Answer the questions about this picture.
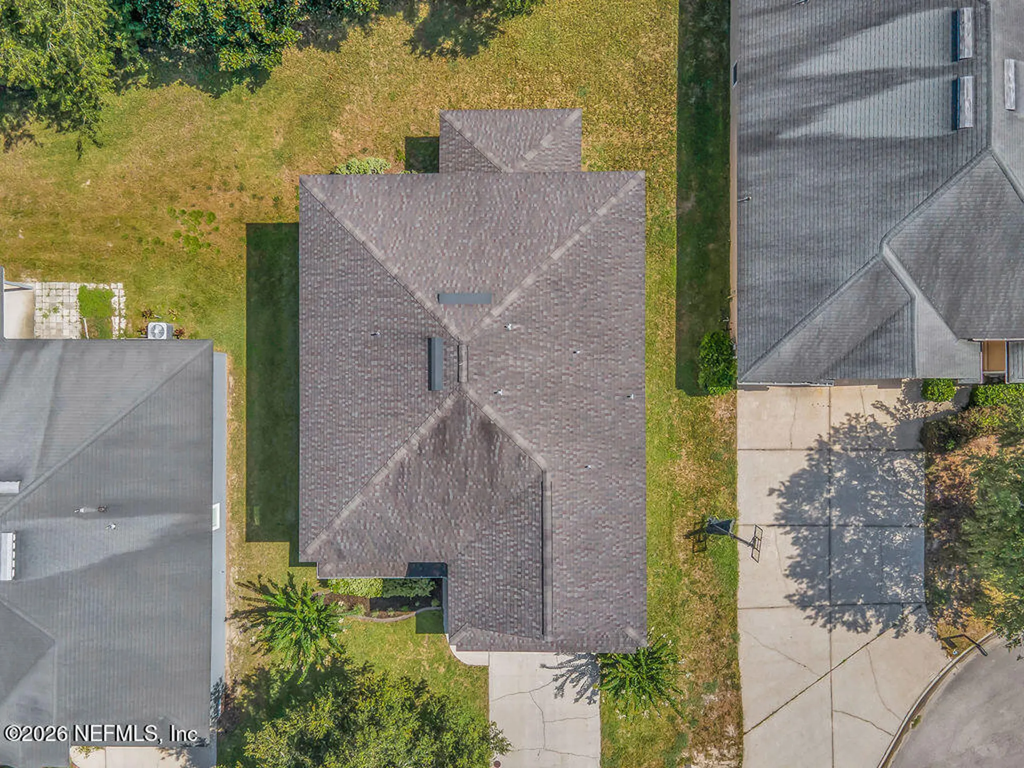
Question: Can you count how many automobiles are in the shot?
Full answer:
No automobiles are visible.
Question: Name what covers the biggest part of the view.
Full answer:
The bulk of the photo consists of buildings.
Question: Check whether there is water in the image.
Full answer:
No, the picture contains no water.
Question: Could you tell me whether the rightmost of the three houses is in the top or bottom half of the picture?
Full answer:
The rightmost of the three houses sits in the top half of the picture.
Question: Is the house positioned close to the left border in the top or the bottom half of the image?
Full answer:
You can find the house positioned close to the left border in the bottom half.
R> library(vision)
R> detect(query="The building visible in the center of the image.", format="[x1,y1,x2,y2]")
[298,107,647,652]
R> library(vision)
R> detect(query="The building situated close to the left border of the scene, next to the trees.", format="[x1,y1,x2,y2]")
[0,265,227,768]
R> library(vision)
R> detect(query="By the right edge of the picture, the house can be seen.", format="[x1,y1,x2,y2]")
[731,0,1024,385]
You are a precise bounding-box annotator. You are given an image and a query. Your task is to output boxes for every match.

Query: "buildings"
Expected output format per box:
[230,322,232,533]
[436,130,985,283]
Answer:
[0,265,227,768]
[731,0,1024,385]
[298,107,647,652]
